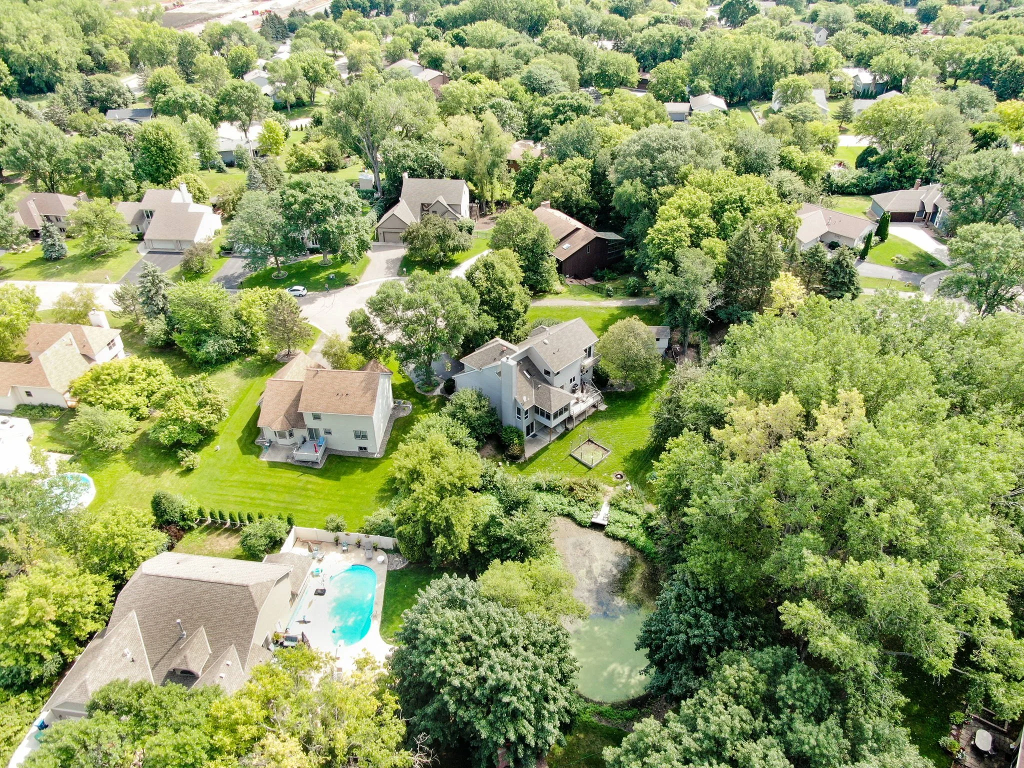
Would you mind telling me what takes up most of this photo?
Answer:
trees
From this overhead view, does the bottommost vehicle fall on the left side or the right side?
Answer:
left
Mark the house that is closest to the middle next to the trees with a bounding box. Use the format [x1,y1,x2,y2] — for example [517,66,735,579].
[454,313,617,444]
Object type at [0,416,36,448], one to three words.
vehicle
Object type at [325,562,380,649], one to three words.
swimming pool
